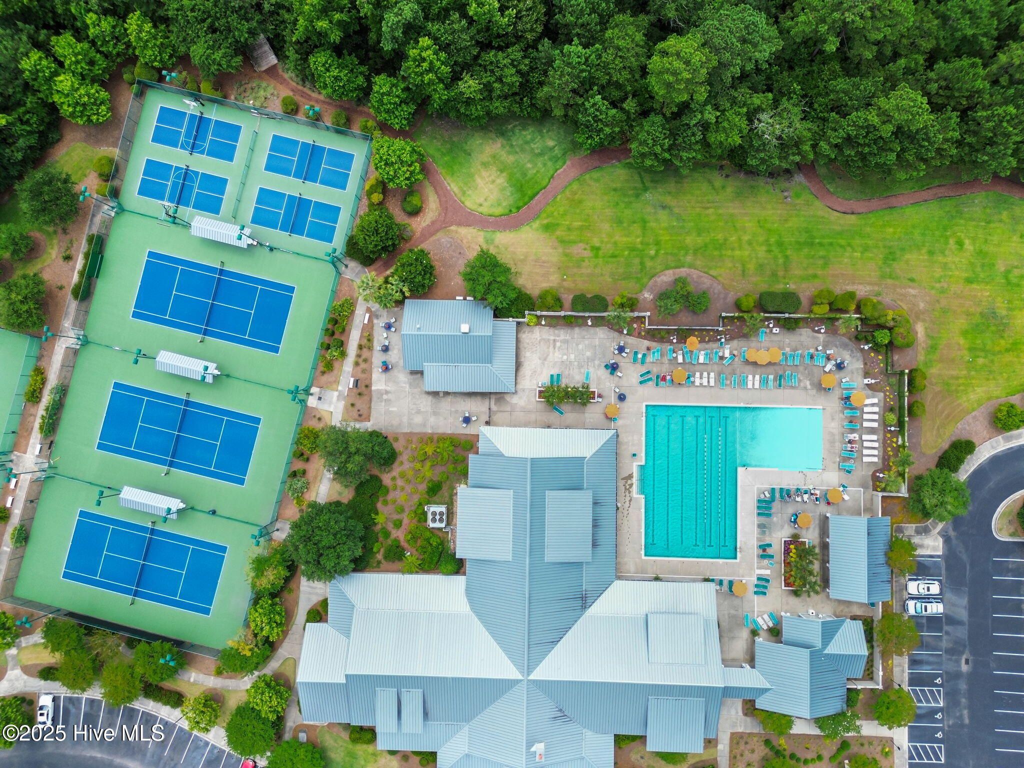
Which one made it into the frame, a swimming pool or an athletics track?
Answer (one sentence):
There is a swimming pool in the scene.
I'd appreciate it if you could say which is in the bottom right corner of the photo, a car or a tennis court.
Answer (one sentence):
The one visible in the bottom right corner of the photo is a car.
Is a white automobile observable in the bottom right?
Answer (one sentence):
Yes, there is a white automobile in the bottom right.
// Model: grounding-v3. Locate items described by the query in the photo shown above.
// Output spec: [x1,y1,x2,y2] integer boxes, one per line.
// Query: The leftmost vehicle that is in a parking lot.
[38,693,57,726]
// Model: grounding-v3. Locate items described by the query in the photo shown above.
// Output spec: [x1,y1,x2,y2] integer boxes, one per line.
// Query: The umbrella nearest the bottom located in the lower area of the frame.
[733,582,747,596]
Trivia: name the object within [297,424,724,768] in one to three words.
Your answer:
building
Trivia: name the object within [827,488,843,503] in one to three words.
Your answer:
umbrella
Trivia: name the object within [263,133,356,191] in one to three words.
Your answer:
sports court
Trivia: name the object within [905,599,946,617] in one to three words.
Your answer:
car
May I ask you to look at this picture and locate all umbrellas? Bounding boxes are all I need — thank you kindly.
[745,348,758,362]
[827,488,843,503]
[756,351,770,364]
[605,404,619,418]
[733,582,747,596]
[768,348,782,362]
[796,513,812,528]
[850,391,866,406]
[686,337,699,350]
[821,373,836,388]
